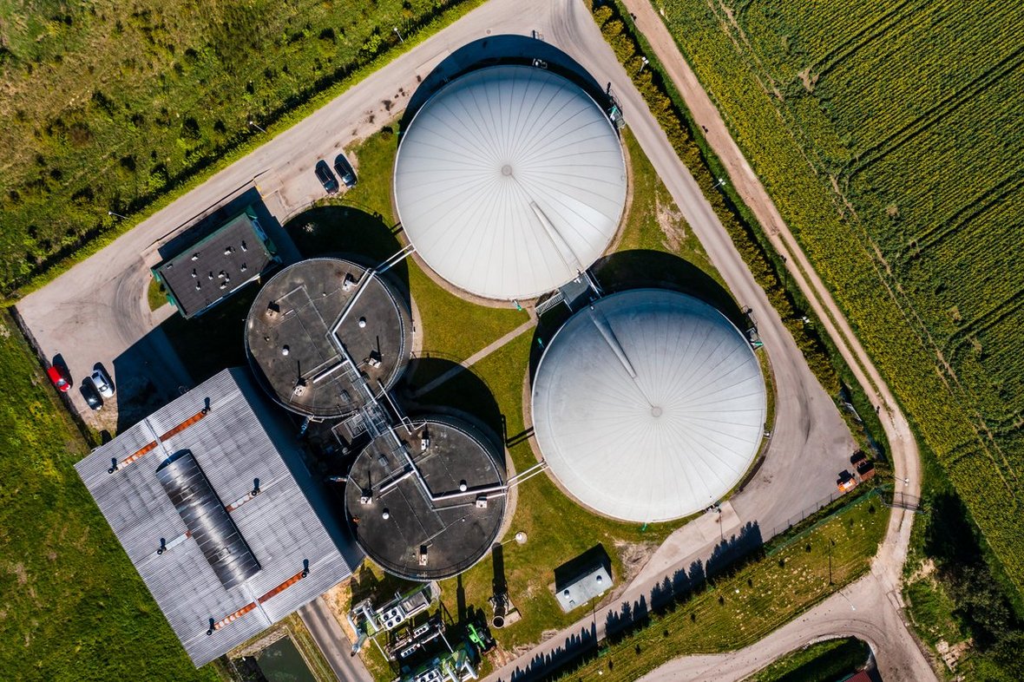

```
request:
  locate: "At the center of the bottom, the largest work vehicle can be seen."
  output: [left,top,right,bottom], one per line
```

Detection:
[463,623,495,661]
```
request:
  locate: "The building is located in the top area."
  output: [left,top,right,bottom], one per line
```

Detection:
[151,205,284,318]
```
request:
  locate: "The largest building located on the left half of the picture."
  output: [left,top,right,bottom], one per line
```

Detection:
[74,369,363,667]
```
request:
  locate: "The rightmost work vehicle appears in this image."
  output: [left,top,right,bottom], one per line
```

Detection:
[829,473,858,493]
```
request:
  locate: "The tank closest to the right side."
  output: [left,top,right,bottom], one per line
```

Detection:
[532,288,767,522]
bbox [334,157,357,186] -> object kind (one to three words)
car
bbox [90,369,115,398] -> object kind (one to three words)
car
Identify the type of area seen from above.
industrial area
